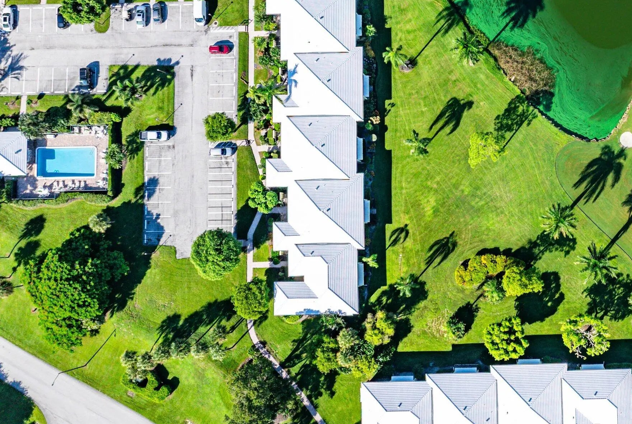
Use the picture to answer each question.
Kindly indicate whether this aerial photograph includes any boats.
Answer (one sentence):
No, there appears to be no boat in this shot.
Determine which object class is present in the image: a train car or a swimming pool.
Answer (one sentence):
There is a swimming pool in the scene.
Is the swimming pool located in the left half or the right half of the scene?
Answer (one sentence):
The swimming pool sits on the left side.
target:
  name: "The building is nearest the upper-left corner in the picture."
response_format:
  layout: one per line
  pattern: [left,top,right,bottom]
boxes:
[0,132,34,176]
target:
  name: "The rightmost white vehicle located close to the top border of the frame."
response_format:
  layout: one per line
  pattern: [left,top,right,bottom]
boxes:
[190,0,205,26]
